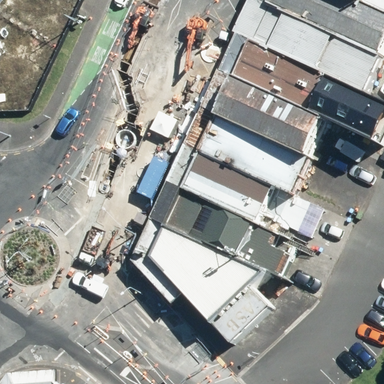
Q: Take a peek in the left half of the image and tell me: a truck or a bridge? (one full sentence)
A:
It is a truck that can be seen in the left half of the image.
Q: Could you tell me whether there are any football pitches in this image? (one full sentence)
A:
No, I can see no football pitch in this picture.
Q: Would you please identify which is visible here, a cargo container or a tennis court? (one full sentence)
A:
There is a cargo container in the scene.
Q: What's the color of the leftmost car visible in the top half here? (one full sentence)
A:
The leftmost car visible in the top half looks blue in the image.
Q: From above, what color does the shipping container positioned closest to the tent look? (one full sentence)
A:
The color of the shipping container positioned closest to the tent is blue.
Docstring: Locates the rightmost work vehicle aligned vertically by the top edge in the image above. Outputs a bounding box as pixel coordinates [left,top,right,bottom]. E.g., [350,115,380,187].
[184,12,212,70]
